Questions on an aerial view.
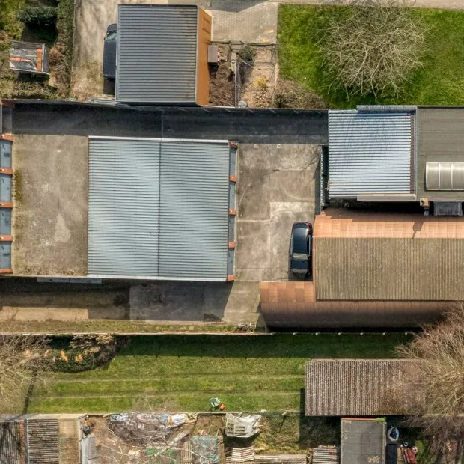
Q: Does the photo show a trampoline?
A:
No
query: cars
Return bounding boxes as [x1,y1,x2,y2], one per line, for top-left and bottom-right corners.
[98,24,117,79]
[286,223,310,278]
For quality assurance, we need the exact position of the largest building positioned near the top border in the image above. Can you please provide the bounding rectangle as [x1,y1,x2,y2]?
[114,4,212,104]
